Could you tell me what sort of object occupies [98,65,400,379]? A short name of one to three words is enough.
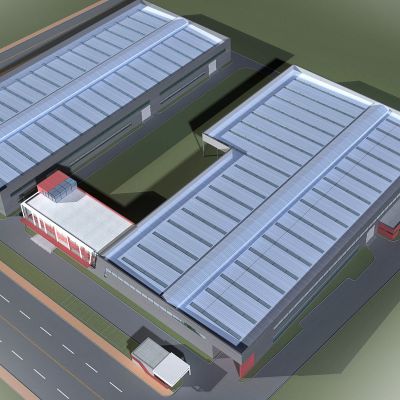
building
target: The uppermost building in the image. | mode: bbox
[0,0,231,216]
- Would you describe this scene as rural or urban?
urban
